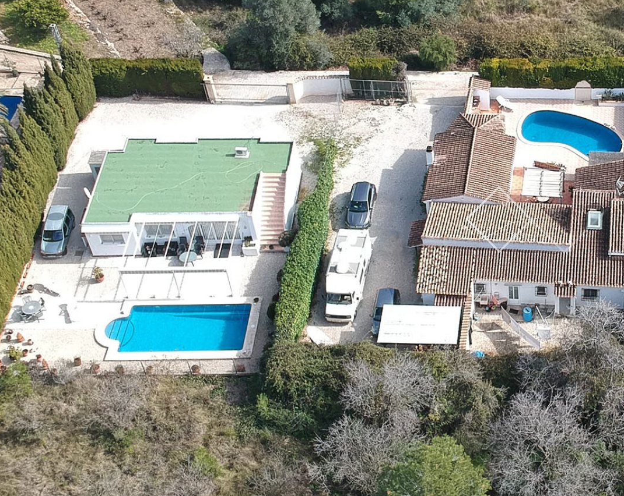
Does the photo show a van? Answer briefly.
Yes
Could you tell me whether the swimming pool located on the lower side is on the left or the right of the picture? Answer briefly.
left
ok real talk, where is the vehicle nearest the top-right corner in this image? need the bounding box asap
[344,179,375,225]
